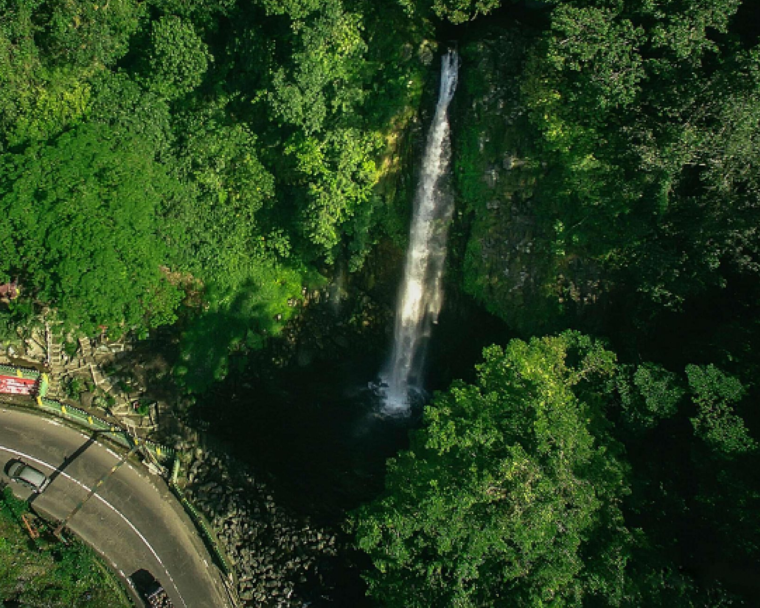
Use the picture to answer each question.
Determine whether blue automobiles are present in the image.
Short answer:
No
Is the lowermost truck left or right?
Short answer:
left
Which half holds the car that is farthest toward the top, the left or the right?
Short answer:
left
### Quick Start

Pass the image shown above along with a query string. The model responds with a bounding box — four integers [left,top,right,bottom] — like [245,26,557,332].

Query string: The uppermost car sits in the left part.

[7,463,52,496]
